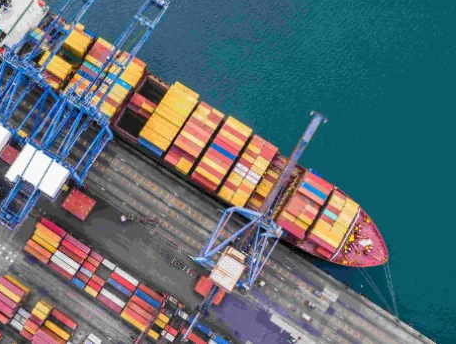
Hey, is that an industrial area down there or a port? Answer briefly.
port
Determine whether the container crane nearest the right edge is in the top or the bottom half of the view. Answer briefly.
bottom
